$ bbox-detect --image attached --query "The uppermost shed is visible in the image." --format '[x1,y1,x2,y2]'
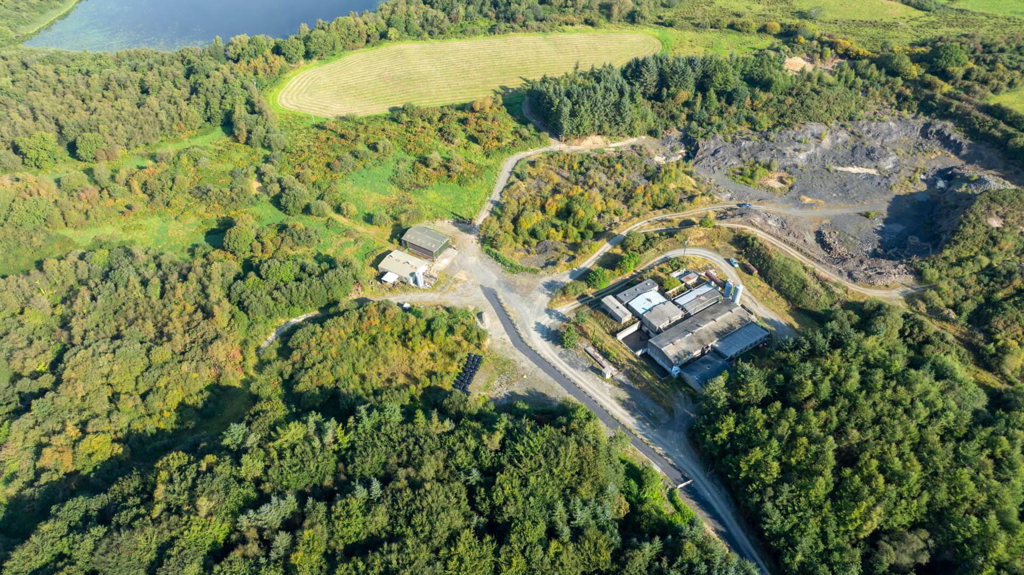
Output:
[400,224,449,260]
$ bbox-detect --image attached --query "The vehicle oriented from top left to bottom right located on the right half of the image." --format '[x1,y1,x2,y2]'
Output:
[726,257,743,269]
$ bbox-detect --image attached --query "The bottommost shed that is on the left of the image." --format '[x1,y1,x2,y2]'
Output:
[378,249,427,287]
